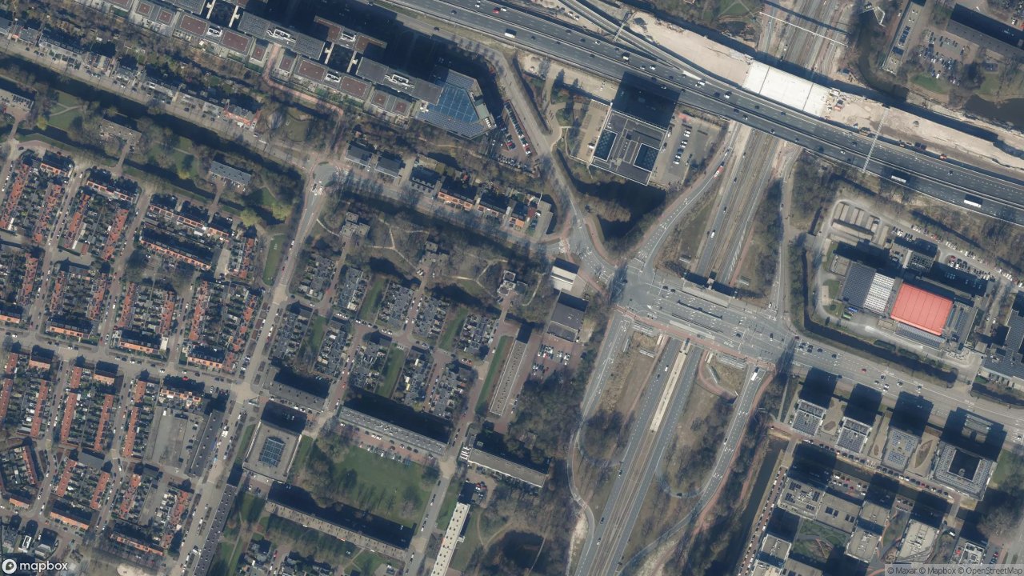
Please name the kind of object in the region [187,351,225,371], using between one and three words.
building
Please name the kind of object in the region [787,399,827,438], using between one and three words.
building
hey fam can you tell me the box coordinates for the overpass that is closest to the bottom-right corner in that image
[655,275,740,354]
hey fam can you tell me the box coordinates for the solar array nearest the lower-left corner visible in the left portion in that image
[260,437,285,465]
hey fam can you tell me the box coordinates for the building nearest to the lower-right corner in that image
[947,538,986,573]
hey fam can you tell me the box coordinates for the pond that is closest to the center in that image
[555,149,666,241]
